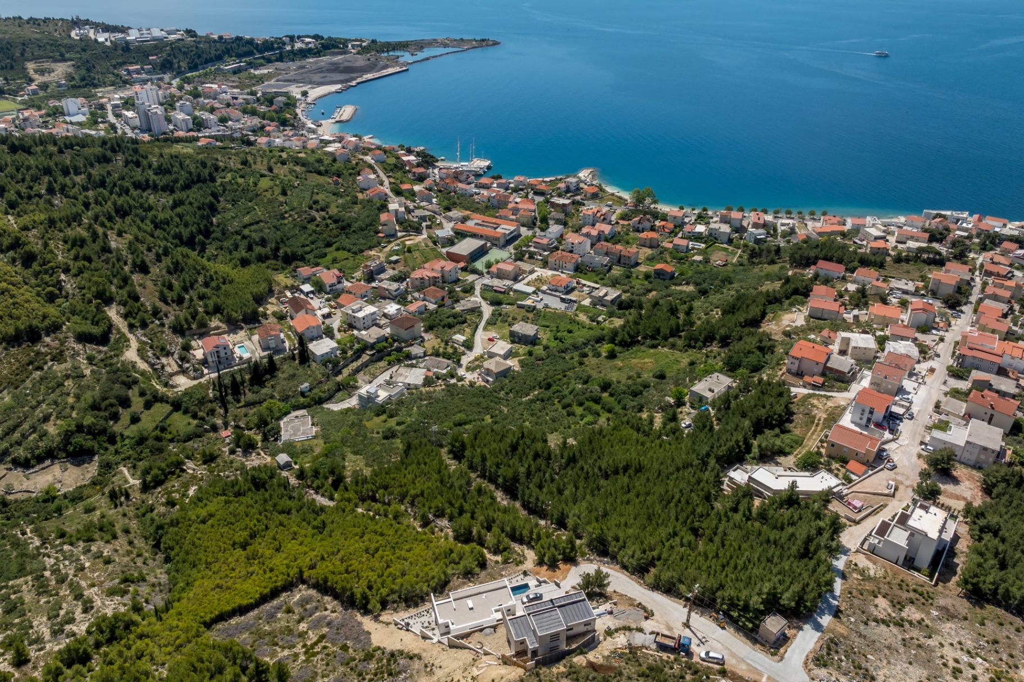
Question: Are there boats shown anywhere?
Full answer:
Yes, the picture does show a boat.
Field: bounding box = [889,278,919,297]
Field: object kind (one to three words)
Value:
house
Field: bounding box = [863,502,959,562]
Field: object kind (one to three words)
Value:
house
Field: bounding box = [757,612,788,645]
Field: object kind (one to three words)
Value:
shed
